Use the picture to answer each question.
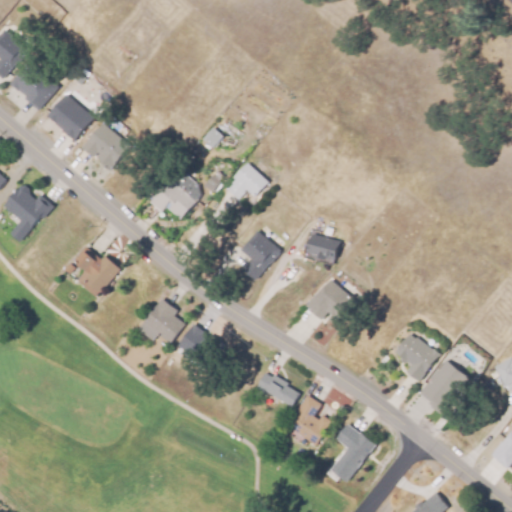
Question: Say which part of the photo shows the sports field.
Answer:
bottom left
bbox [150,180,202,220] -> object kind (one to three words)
house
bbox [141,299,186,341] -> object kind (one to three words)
house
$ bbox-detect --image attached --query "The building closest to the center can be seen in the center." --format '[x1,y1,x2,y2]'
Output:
[244,231,283,279]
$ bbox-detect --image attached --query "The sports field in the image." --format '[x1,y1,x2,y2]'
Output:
[0,342,134,447]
